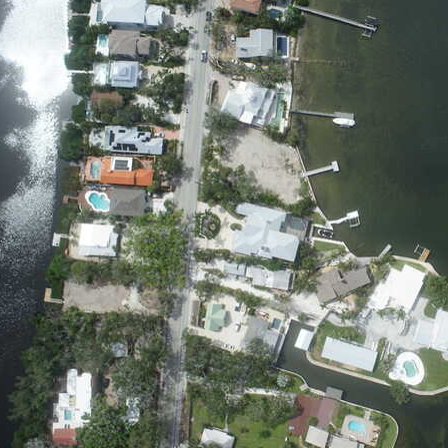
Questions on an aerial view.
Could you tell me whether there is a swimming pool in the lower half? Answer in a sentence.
Yes, a swimming pool is visible in the lower half.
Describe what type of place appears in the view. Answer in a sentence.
What you see here is a residential area.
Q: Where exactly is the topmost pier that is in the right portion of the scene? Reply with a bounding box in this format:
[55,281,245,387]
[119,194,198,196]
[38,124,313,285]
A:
[298,6,378,32]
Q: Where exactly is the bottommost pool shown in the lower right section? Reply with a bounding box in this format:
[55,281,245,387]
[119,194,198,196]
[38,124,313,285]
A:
[341,415,381,447]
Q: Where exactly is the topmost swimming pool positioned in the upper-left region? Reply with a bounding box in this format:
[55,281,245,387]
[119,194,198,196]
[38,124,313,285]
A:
[90,0,105,25]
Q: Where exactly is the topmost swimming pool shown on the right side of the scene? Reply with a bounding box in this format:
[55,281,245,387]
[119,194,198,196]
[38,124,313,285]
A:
[265,6,287,21]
